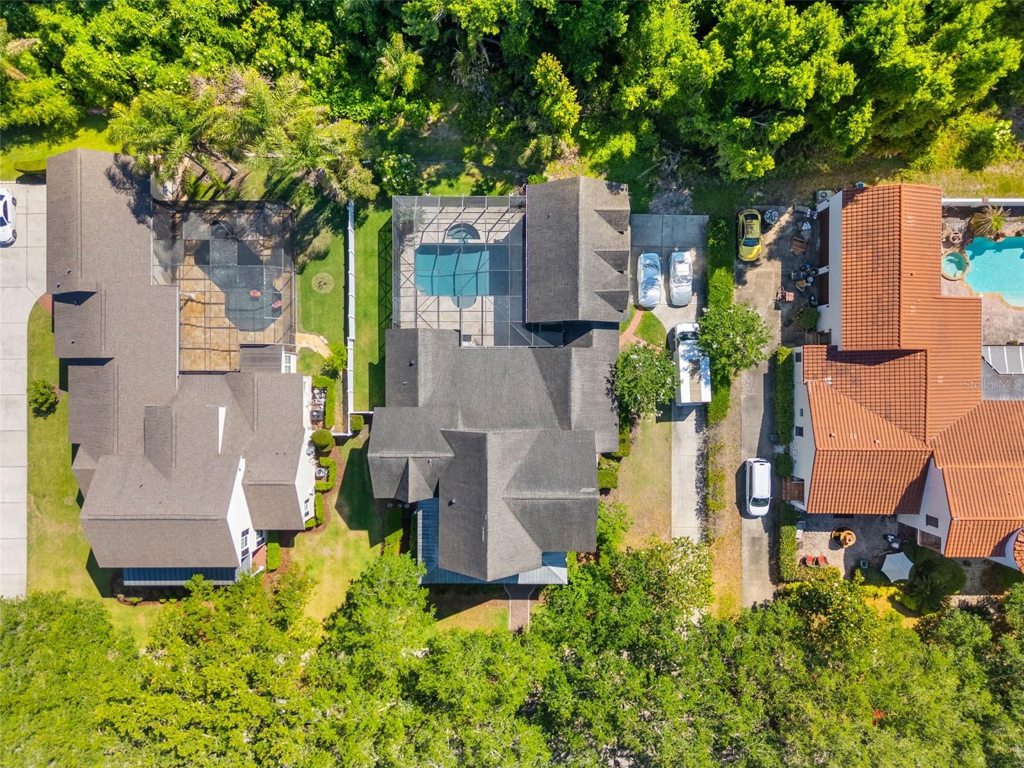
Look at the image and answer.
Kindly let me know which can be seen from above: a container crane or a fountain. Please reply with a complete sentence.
There is a fountain in the scene.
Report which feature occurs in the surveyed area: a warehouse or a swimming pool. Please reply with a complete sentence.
Visible in the photo is a swimming pool.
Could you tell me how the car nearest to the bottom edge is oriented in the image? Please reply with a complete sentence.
I'd say the car nearest to the bottom edge is aligned up and down in the picture.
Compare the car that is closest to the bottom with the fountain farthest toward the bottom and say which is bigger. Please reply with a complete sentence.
The car takes up more space than the fountain.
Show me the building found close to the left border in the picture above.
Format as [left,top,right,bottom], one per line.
[47,149,316,584]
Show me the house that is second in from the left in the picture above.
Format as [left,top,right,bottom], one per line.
[369,177,631,584]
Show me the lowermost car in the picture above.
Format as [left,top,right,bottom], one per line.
[738,458,767,513]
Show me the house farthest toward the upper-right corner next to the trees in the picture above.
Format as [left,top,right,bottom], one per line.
[780,182,1024,572]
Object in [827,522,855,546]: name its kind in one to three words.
fountain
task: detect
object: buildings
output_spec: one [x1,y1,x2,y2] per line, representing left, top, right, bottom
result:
[47,149,316,584]
[780,182,1024,572]
[369,177,631,584]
